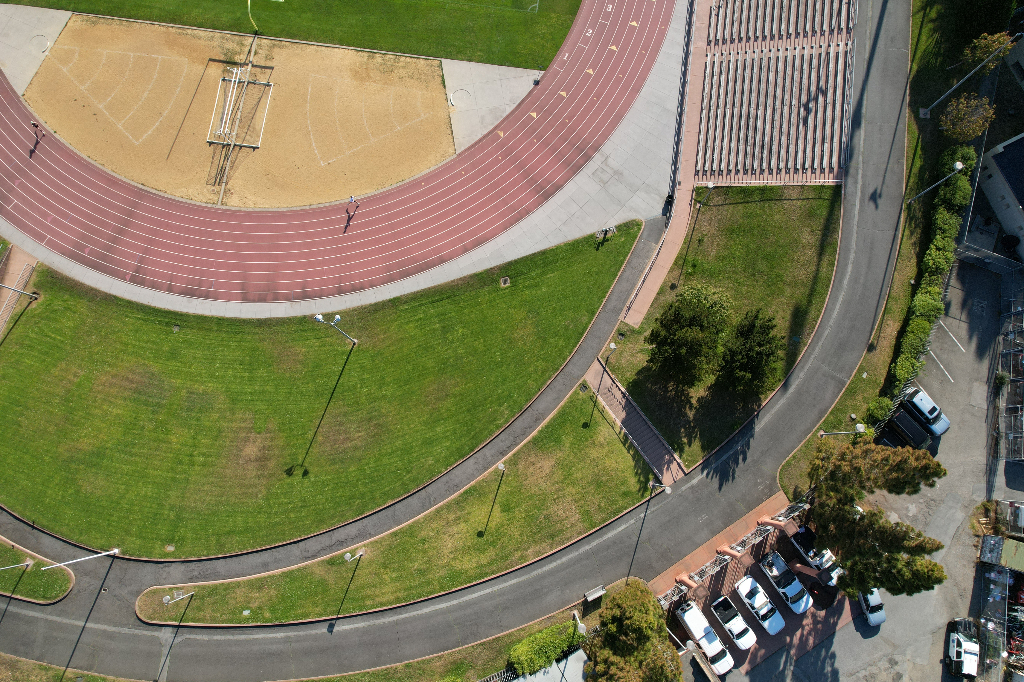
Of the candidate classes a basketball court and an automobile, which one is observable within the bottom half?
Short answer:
automobile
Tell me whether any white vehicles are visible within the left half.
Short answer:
No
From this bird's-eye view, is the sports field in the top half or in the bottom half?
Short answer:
top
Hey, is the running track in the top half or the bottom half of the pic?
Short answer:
top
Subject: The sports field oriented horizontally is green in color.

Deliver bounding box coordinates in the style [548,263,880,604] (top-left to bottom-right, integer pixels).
[0,0,576,70]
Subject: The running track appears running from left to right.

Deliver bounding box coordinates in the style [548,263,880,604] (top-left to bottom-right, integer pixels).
[0,0,674,304]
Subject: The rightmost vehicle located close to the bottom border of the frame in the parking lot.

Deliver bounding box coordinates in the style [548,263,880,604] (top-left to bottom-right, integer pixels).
[943,617,980,679]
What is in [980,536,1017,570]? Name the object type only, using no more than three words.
shed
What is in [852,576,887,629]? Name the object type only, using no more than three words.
car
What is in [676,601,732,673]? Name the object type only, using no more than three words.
truck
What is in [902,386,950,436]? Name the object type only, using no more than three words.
car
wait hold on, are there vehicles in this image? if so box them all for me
[707,592,755,653]
[884,402,929,452]
[676,601,732,673]
[943,617,980,679]
[902,386,950,436]
[792,522,843,582]
[759,552,812,613]
[734,576,784,633]
[852,576,887,629]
